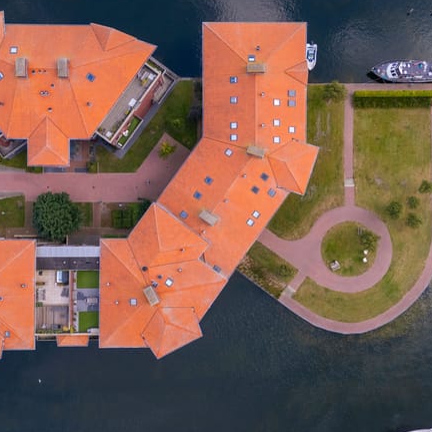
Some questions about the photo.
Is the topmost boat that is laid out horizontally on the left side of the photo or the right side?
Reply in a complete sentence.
The topmost boat that is laid out horizontally appears in the right half of the scene.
